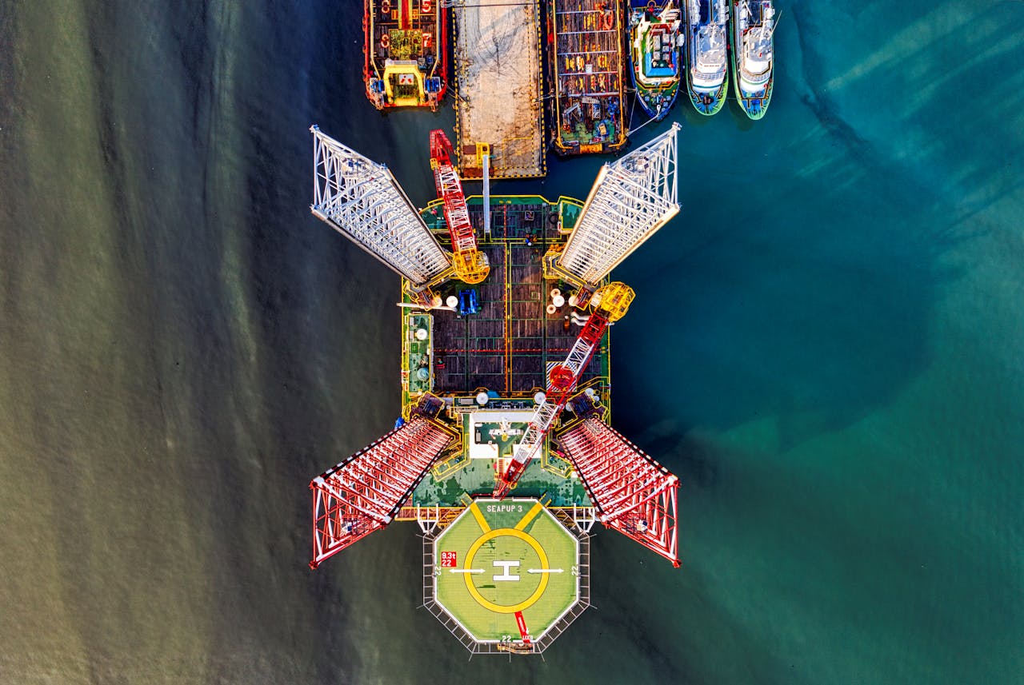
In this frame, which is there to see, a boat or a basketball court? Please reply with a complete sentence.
It is a boat that can be seen here.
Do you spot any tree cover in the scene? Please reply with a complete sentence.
No, tree cover can't be seen anywhere here.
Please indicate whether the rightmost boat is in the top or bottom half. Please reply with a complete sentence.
Seen from above, the rightmost boat lies in the top half of the view.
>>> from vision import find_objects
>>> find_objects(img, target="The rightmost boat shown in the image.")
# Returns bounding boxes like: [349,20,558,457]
[728,0,775,123]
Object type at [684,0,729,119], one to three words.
boat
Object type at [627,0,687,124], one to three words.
boat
